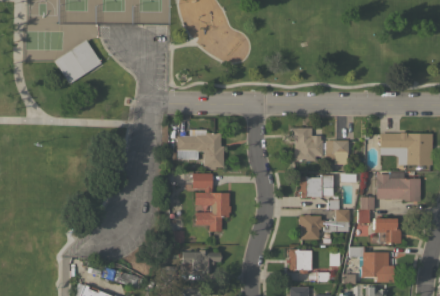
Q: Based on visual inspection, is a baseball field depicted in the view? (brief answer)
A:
No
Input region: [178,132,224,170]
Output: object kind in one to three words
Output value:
house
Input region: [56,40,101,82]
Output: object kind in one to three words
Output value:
building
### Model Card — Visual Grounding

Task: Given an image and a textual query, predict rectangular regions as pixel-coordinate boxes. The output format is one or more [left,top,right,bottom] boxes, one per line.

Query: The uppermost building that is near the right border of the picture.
[381,134,434,166]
